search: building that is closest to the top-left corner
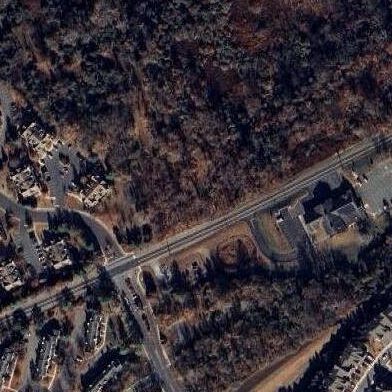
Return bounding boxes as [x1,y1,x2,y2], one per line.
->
[18,117,54,154]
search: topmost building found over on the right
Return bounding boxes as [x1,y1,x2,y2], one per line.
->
[309,201,363,244]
